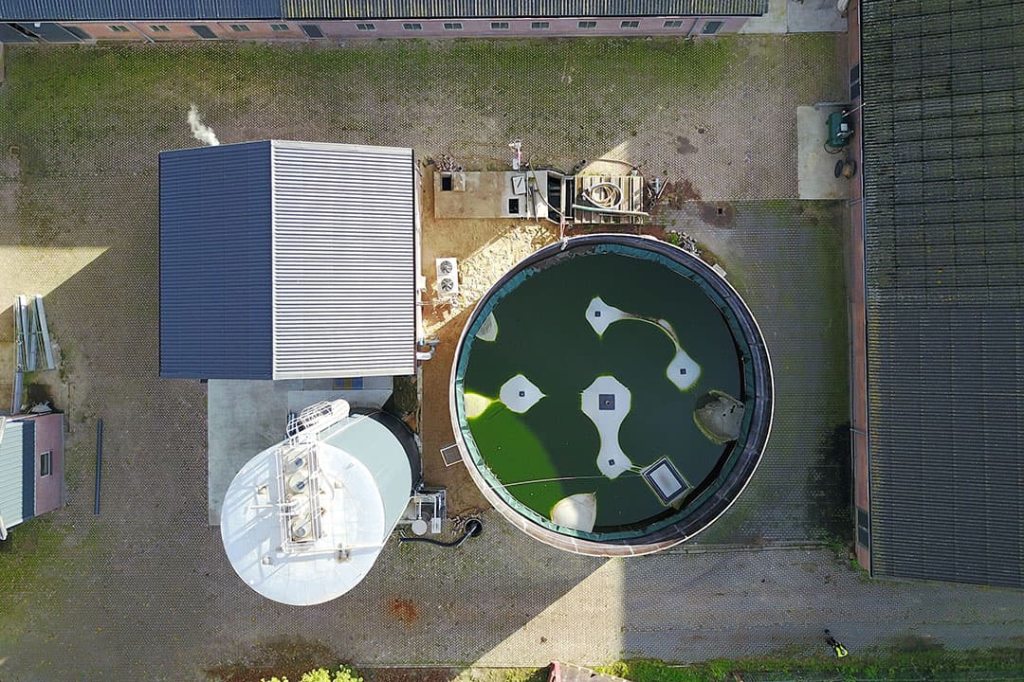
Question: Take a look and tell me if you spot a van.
No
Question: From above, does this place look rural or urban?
urban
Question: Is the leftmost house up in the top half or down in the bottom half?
bottom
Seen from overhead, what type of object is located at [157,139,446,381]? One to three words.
shed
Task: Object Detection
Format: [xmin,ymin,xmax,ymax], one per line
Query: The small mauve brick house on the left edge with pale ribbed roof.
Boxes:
[0,414,65,524]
